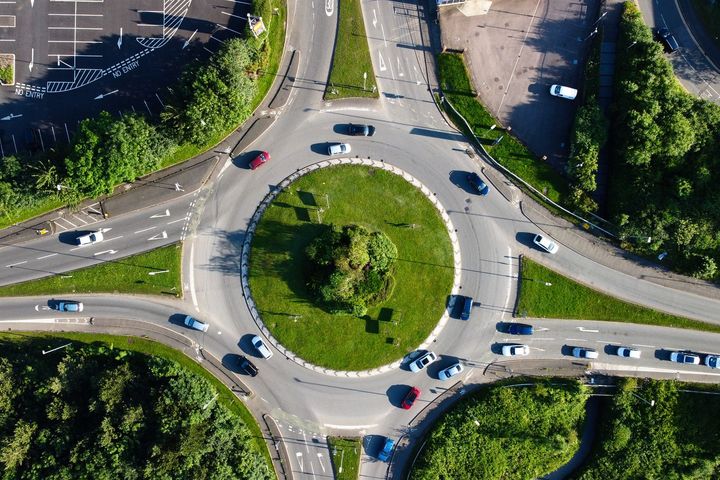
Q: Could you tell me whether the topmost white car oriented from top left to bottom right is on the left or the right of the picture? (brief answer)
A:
right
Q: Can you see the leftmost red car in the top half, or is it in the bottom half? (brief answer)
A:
top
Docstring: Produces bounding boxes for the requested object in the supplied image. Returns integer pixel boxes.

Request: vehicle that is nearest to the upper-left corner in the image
[77,231,104,246]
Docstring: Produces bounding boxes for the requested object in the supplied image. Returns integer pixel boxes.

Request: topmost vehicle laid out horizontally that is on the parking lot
[551,82,581,98]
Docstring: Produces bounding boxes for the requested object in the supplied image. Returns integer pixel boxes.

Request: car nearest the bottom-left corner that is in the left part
[58,301,83,313]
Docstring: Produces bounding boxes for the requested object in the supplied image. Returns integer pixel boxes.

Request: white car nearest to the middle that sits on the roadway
[328,142,352,155]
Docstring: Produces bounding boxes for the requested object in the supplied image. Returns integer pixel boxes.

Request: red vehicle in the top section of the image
[249,150,271,170]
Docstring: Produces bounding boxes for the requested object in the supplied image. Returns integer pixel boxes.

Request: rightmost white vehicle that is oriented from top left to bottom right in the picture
[534,233,560,254]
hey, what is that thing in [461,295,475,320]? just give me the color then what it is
blue vehicle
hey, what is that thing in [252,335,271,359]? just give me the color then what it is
white car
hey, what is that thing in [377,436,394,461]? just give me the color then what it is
blue car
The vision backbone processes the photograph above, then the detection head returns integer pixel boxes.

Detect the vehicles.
[348,122,375,136]
[377,436,394,461]
[669,351,700,364]
[328,142,352,155]
[617,346,641,358]
[249,150,271,170]
[184,316,210,332]
[252,335,271,359]
[401,386,421,410]
[461,295,475,320]
[409,351,437,373]
[706,354,720,368]
[501,344,529,357]
[437,361,465,381]
[551,82,581,98]
[236,358,259,379]
[58,301,83,313]
[534,233,560,254]
[572,346,599,359]
[77,231,104,246]
[468,173,490,195]
[509,322,535,335]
